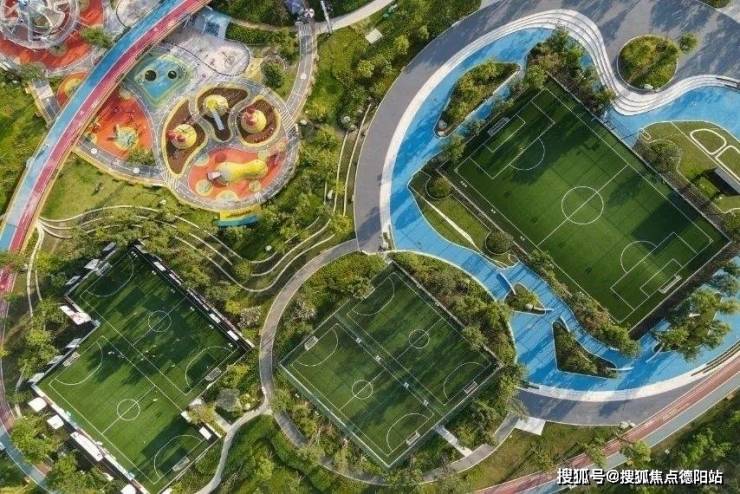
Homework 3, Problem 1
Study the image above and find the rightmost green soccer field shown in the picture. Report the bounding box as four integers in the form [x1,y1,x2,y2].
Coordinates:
[438,72,731,335]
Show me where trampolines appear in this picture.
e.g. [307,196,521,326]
[143,69,158,82]
[166,69,178,80]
